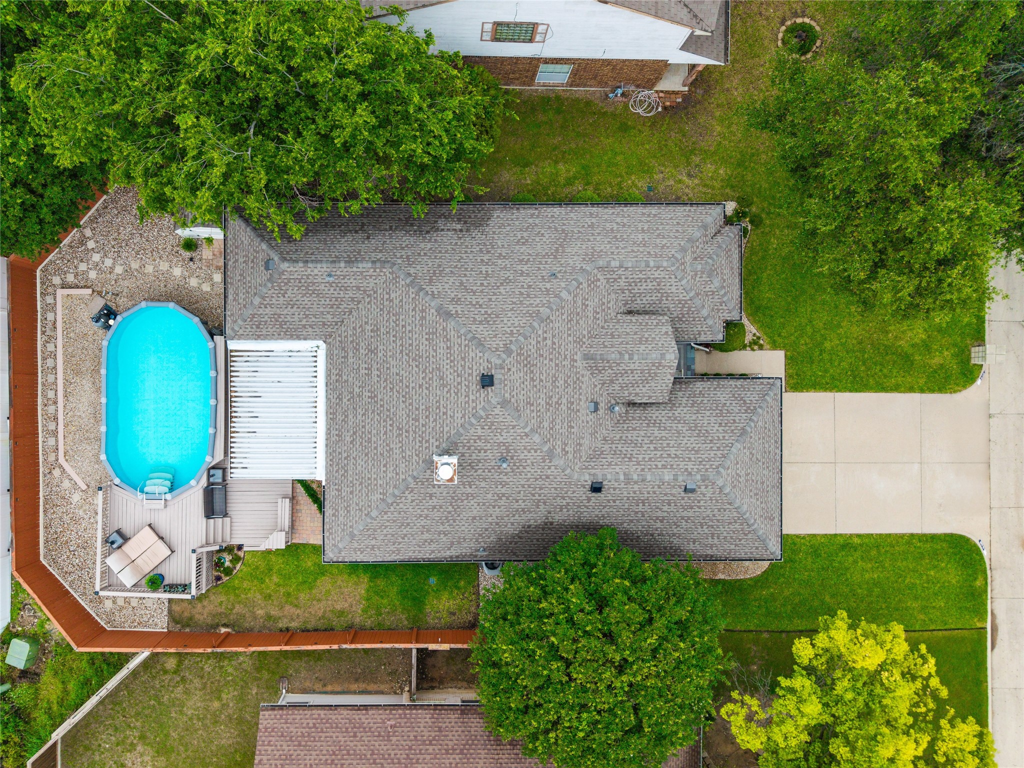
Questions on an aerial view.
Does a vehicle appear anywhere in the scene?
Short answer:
No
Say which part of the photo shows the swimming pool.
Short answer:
left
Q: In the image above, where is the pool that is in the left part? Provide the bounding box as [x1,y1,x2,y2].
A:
[100,301,217,499]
